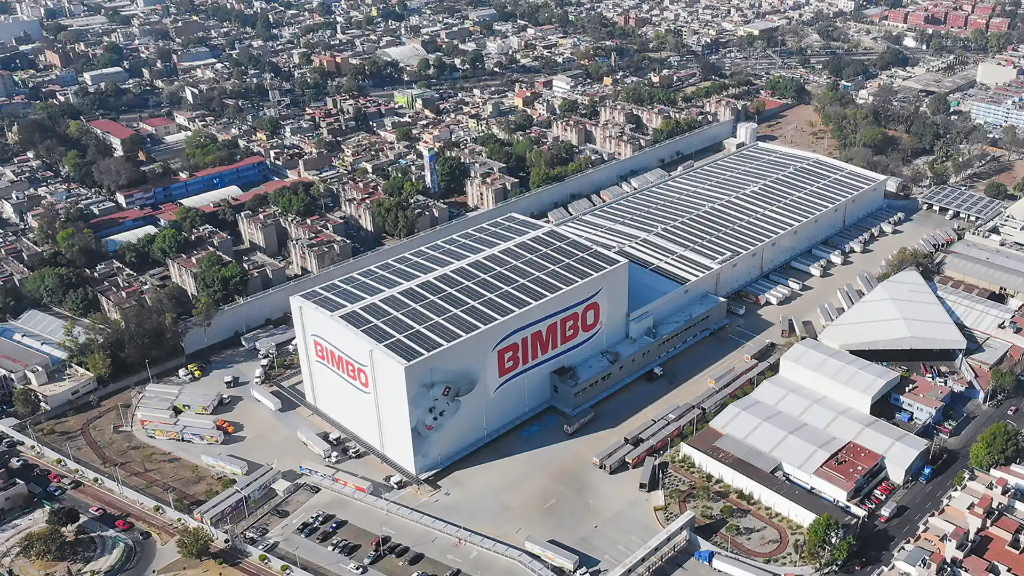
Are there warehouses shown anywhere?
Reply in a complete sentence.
Yes, the picture does show a warehouse.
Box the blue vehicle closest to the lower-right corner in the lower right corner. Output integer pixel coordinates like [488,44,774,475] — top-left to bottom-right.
[917,462,939,487]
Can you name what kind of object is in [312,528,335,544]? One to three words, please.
car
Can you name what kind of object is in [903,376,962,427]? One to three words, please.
house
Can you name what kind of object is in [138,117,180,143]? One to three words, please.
building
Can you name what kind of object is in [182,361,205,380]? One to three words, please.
vehicle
